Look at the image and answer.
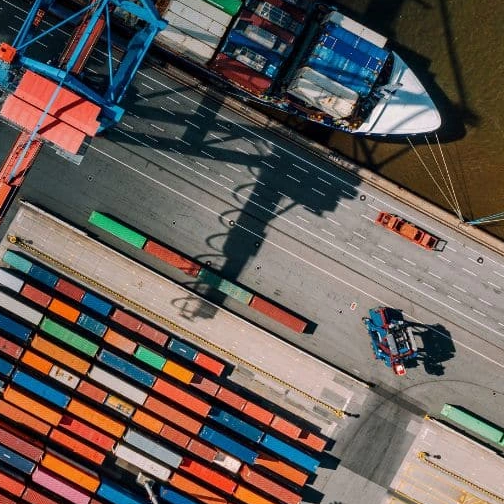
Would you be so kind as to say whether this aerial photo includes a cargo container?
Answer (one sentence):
Yes, a cargo container can be made out from above.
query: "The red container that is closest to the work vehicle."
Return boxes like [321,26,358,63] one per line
[249,295,308,334]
